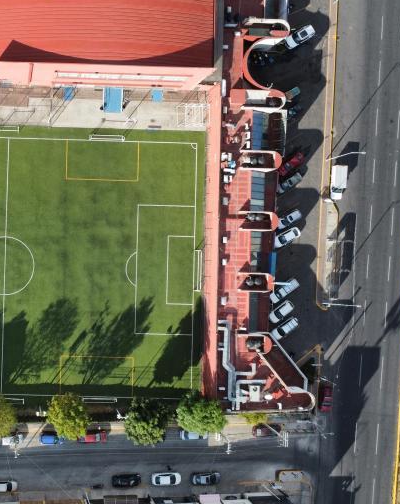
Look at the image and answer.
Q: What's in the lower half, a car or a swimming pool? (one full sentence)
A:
You can see a car in the lower half.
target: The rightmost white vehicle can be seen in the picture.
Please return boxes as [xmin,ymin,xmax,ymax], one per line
[328,165,349,199]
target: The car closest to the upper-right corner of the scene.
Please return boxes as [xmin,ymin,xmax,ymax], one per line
[285,22,318,49]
